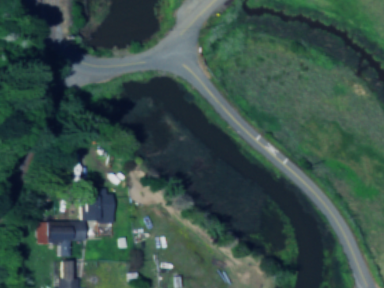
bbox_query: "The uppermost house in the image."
[78,188,116,222]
